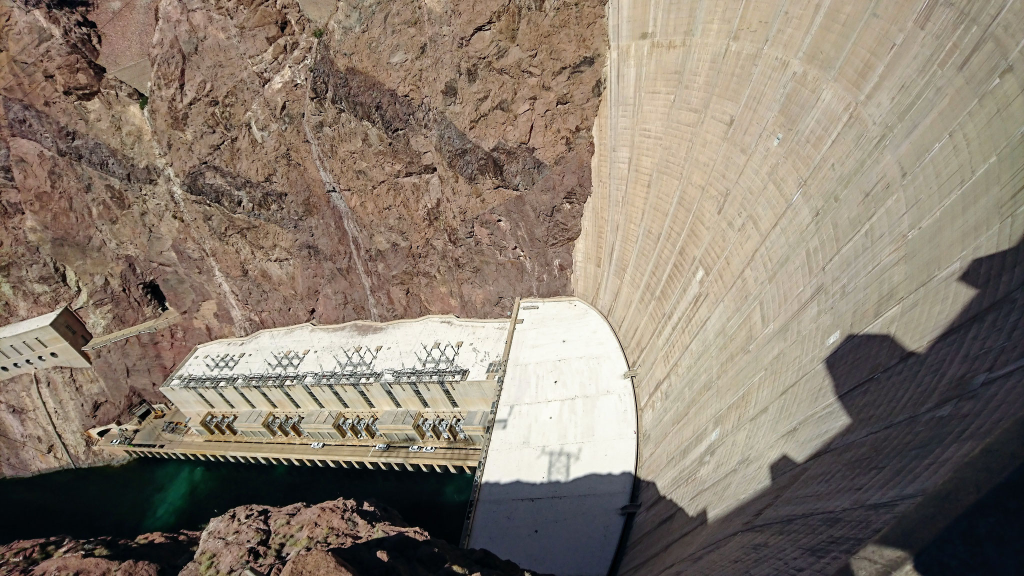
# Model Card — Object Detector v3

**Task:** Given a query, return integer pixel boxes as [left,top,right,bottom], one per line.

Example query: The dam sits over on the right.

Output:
[487,0,1024,576]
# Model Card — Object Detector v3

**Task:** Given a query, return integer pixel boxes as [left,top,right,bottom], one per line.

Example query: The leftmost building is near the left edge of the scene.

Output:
[0,303,103,384]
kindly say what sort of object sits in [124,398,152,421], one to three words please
shed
